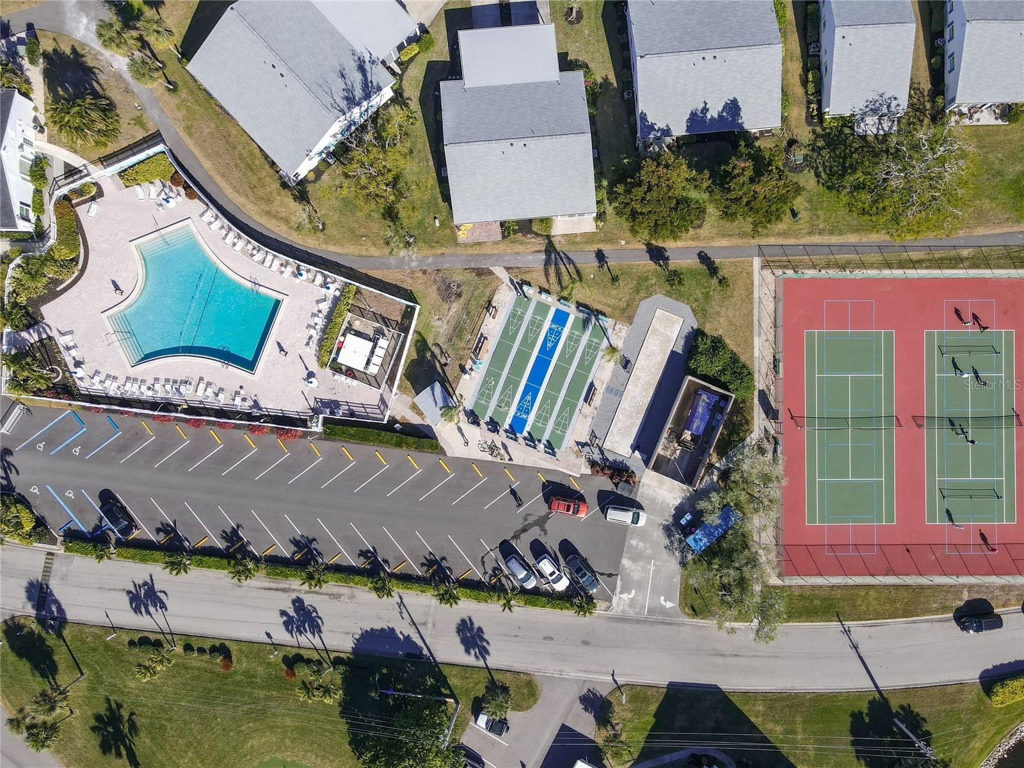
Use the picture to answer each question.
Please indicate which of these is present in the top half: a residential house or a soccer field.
residential house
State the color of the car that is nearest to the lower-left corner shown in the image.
black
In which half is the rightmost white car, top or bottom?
bottom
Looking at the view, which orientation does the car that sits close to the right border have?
from side to side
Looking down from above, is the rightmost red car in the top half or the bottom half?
bottom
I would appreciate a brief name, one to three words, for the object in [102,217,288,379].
swimming pool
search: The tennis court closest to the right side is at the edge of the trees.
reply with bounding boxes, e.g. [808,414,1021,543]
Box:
[910,277,1024,576]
